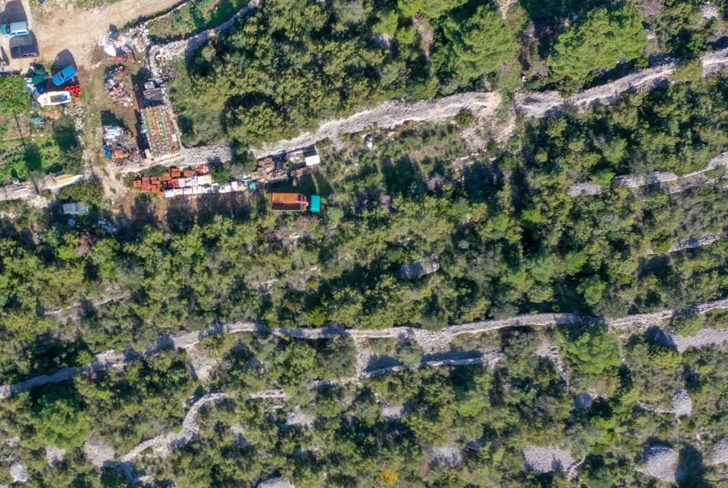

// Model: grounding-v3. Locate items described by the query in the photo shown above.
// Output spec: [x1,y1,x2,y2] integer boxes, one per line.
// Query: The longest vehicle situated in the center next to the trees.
[267,193,323,213]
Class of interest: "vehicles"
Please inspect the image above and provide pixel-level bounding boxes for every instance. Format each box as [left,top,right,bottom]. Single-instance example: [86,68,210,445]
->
[10,42,41,59]
[60,201,90,215]
[267,193,323,213]
[50,62,79,89]
[0,22,30,39]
